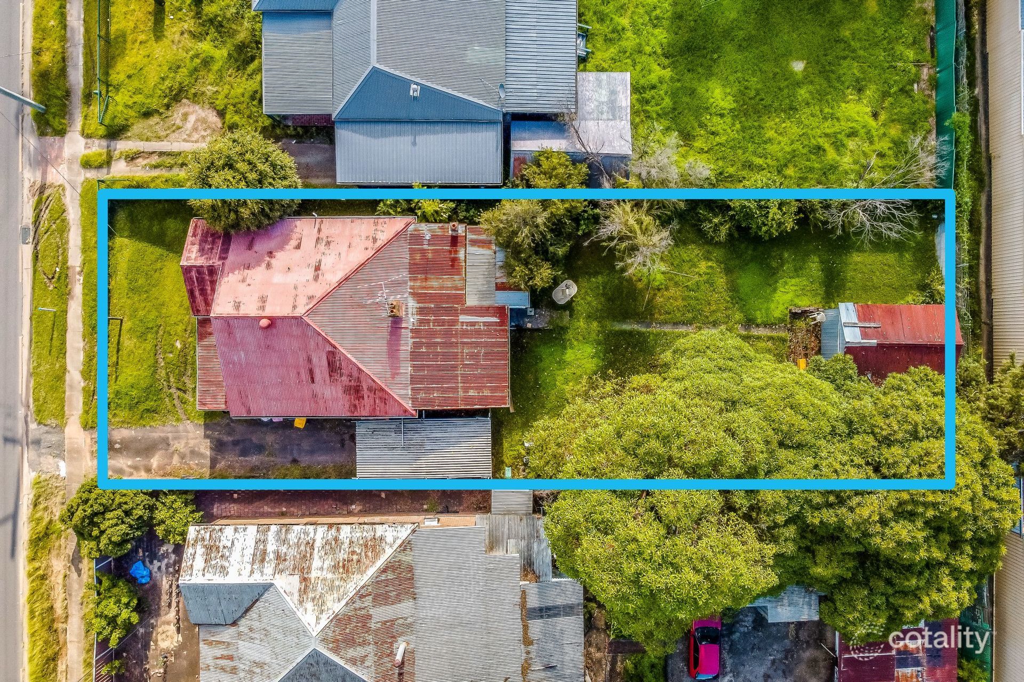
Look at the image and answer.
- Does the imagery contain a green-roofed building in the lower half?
No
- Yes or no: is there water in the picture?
No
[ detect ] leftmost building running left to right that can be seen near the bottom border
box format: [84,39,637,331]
[178,523,523,682]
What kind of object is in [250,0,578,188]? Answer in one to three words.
house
